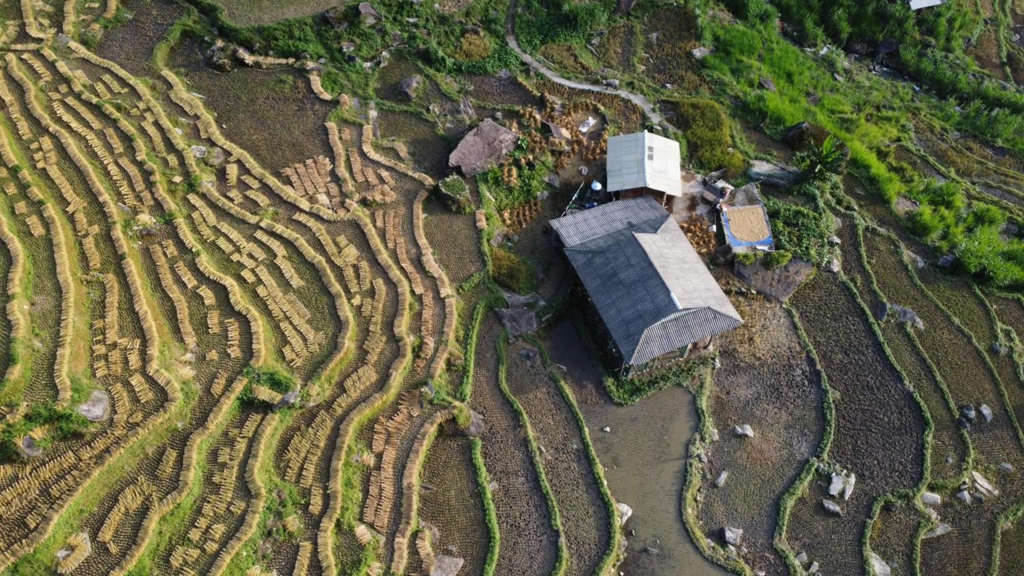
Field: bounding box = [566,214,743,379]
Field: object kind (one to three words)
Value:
house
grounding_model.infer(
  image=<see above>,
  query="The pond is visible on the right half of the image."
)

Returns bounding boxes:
[548,322,734,576]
